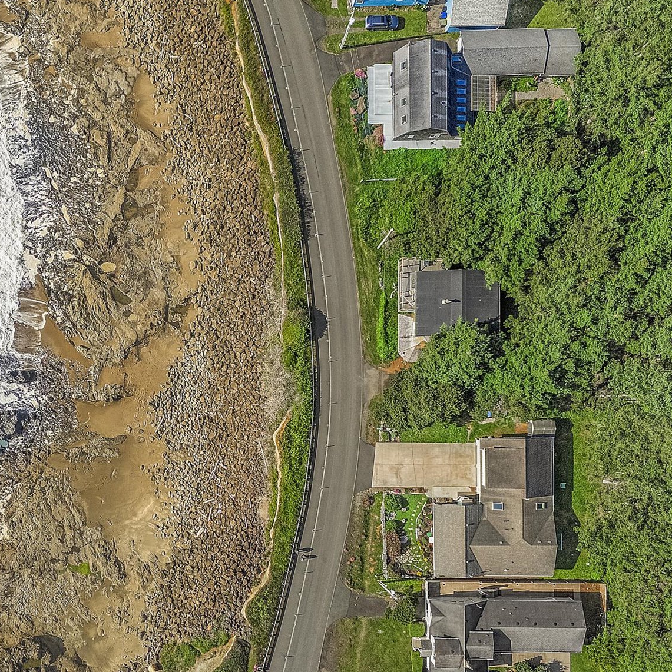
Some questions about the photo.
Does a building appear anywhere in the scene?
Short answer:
Yes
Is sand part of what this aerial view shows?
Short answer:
Yes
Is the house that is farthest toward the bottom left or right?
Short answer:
right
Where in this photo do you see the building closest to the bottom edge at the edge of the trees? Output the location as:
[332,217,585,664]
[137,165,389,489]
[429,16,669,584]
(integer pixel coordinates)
[410,580,590,672]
